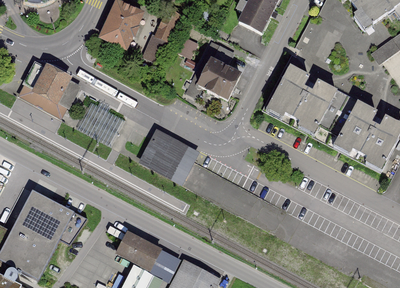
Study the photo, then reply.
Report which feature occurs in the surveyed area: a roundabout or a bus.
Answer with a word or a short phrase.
bus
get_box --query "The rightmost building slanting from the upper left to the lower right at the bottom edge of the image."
[116,232,181,284]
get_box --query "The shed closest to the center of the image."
[140,129,199,186]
